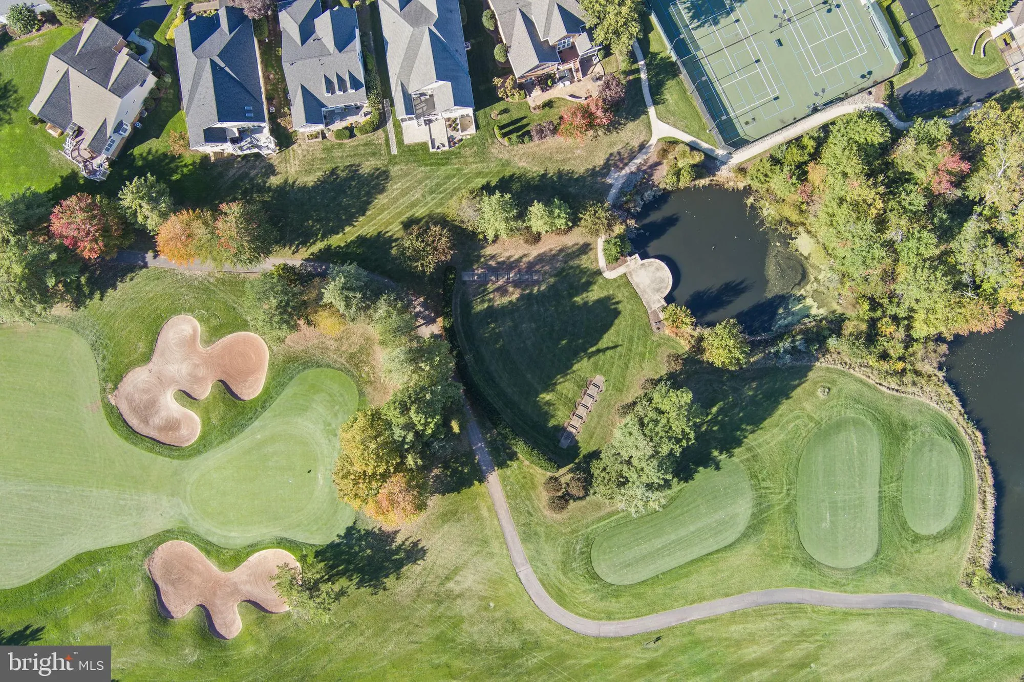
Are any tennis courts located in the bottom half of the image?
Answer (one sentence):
No, no tennis court is visible in the bottom half of the image.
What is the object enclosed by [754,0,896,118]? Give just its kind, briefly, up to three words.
tennis court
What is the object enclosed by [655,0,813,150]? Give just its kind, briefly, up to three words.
tennis court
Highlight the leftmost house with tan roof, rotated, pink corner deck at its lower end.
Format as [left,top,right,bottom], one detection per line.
[28,17,159,184]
